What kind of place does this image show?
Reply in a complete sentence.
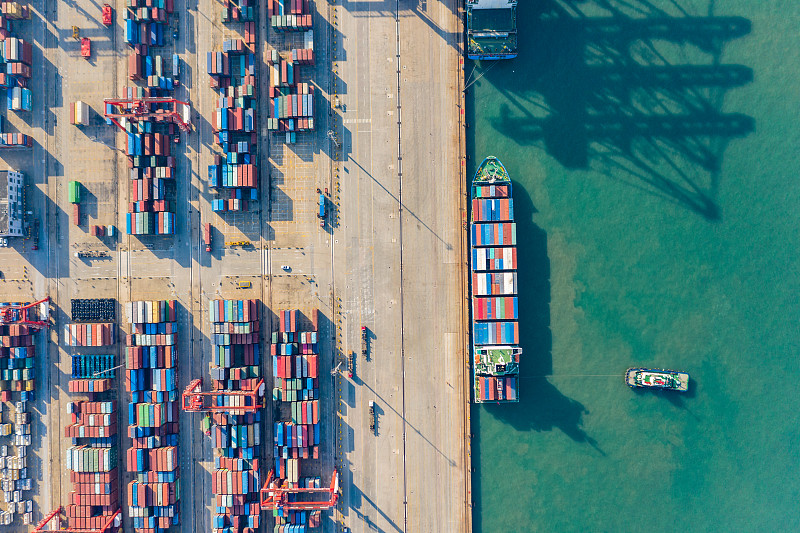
The picture captures a port.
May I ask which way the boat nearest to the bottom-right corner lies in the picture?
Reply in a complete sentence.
In this picture, the boat nearest to the bottom-right corner lies horizontally.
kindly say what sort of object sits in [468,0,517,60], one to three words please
ship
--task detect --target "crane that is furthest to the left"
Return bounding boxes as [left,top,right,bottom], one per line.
[0,295,48,328]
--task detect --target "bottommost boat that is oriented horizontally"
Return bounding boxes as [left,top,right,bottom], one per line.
[625,366,687,389]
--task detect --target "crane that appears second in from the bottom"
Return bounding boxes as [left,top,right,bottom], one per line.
[260,467,338,511]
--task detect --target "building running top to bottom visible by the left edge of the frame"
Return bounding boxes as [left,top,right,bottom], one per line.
[0,170,28,236]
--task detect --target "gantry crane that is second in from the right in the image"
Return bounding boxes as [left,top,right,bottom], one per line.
[184,376,265,413]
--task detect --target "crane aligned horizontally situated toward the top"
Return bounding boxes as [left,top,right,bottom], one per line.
[105,95,191,134]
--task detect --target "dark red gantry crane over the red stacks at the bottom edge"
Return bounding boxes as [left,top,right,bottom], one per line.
[33,505,120,533]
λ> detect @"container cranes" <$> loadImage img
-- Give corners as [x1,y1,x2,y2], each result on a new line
[260,467,338,511]
[0,295,48,328]
[184,376,265,413]
[33,505,120,533]
[105,95,191,134]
